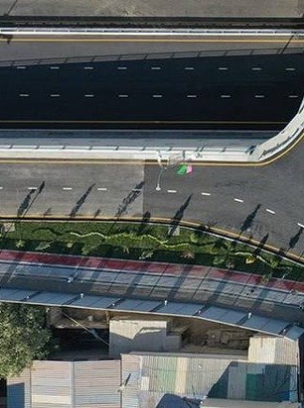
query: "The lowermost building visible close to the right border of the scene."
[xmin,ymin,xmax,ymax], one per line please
[229,353,304,405]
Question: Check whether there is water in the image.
No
